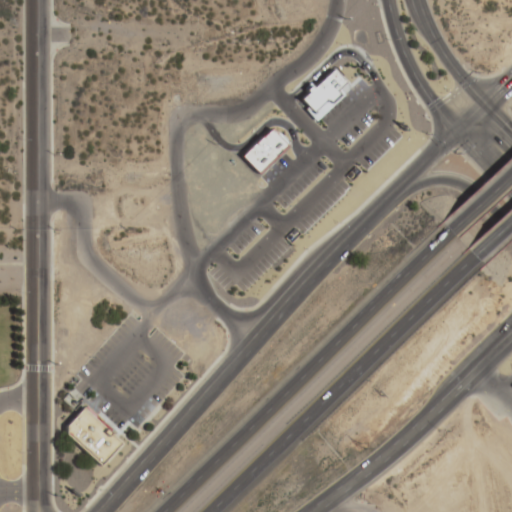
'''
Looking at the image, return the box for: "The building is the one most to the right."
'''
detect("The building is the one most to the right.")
[304,68,352,122]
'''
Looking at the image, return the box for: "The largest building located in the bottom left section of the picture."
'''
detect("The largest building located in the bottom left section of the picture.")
[68,406,125,465]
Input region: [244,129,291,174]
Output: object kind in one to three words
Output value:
building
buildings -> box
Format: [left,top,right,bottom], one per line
[244,129,291,174]
[68,406,125,465]
[304,68,352,122]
